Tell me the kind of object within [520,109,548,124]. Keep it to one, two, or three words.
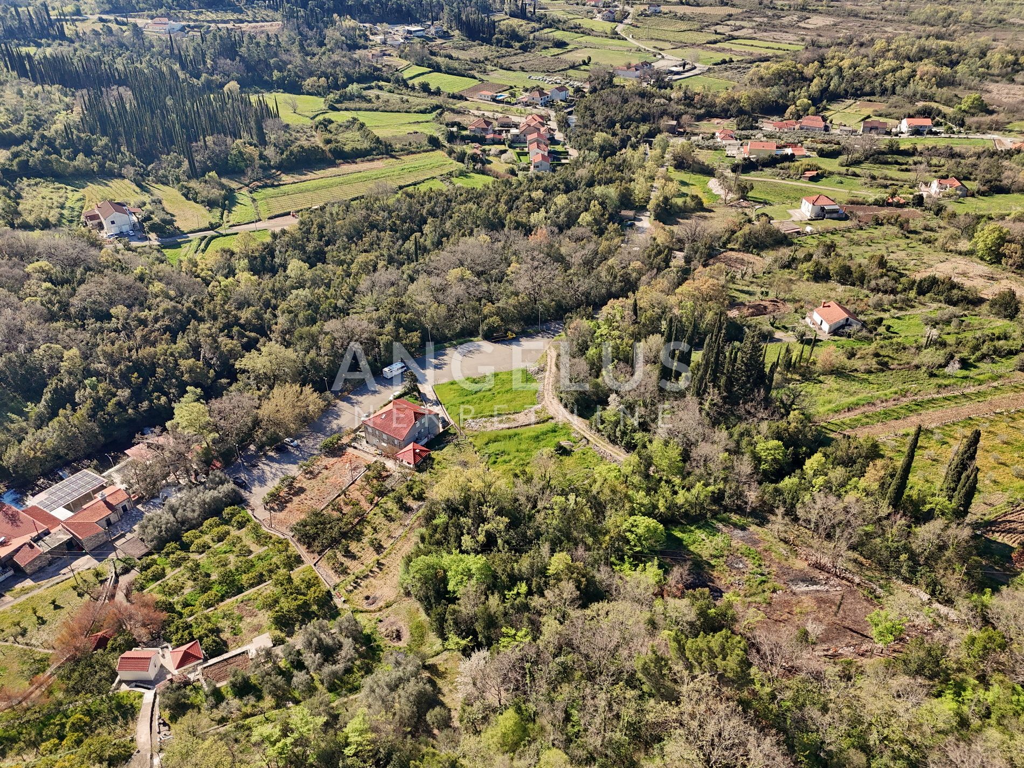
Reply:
house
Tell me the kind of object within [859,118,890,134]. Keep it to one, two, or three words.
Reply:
house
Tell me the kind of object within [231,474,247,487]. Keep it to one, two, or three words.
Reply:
vehicle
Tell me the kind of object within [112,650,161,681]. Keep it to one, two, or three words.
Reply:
shed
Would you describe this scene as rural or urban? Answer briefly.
rural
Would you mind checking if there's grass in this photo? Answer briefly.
Yes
